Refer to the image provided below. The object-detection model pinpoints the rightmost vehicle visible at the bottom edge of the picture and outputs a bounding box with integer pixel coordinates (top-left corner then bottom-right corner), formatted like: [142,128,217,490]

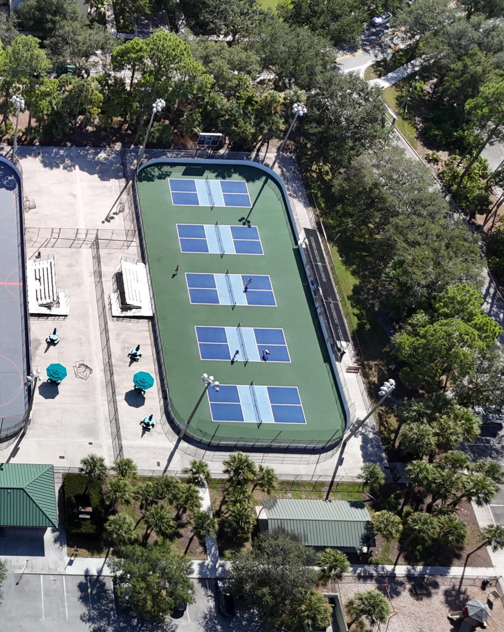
[215,578,240,616]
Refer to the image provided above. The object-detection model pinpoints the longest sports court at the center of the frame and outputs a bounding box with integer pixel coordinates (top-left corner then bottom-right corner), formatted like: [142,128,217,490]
[135,156,345,449]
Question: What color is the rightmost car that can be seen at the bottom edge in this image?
black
